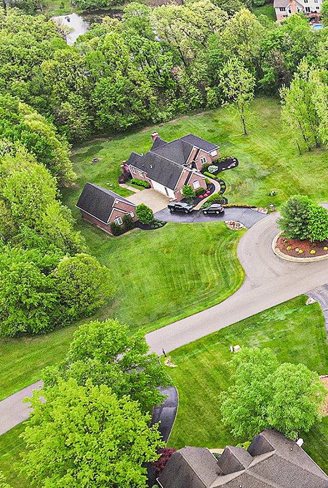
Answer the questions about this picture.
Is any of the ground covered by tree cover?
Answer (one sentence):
Yes, some tree cover is visible.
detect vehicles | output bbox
[163,201,194,214]
[198,203,223,215]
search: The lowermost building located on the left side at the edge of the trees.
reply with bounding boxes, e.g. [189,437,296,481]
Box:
[75,184,139,234]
